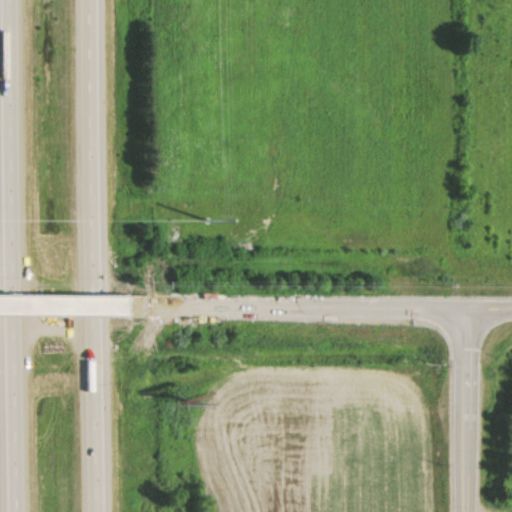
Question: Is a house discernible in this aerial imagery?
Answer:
No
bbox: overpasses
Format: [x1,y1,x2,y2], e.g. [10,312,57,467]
[0,294,150,318]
